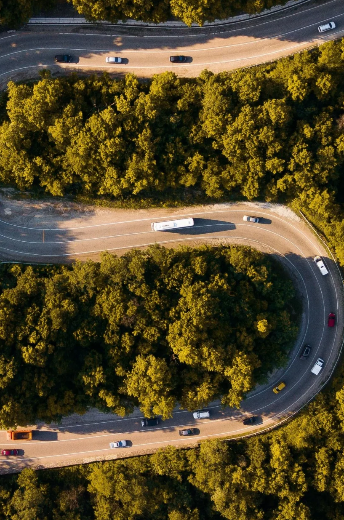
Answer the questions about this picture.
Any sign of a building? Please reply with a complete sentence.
No, I can see no building in this picture.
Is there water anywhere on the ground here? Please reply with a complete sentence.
No, the scene doesn't show any water.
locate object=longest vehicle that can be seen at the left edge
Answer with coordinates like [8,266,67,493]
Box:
[5,431,33,444]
